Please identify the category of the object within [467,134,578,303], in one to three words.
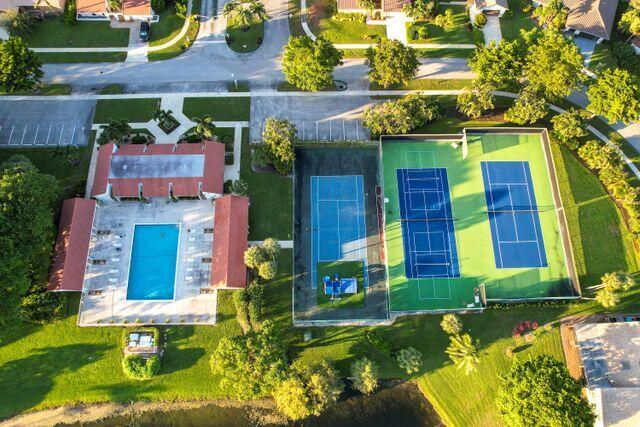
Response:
tennis court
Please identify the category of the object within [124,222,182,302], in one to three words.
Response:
swimming pool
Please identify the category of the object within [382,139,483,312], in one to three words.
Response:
tennis court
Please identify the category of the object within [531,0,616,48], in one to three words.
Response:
house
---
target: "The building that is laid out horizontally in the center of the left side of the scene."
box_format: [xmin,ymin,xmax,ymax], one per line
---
[91,141,225,203]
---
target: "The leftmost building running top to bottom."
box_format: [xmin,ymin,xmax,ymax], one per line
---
[49,198,99,291]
